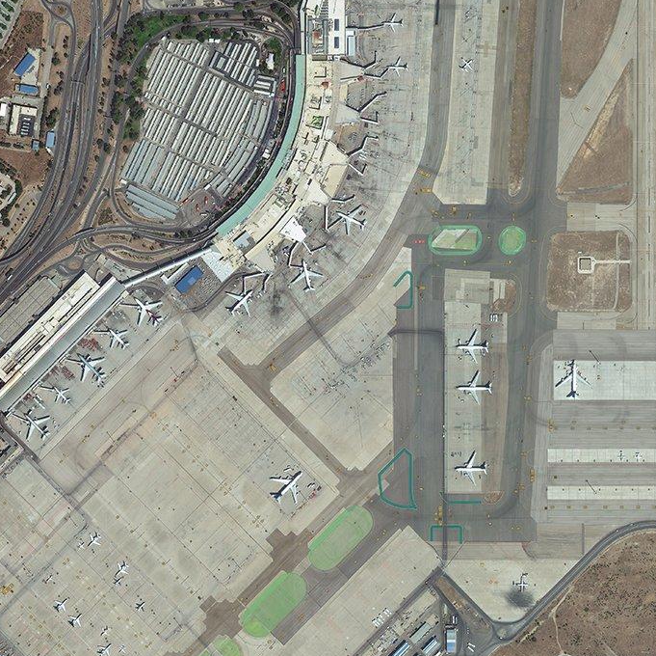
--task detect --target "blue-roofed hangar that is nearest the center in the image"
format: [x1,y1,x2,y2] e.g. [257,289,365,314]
[175,266,202,293]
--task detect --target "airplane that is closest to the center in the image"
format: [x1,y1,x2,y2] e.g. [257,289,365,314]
[291,261,325,293]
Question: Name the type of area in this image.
airport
